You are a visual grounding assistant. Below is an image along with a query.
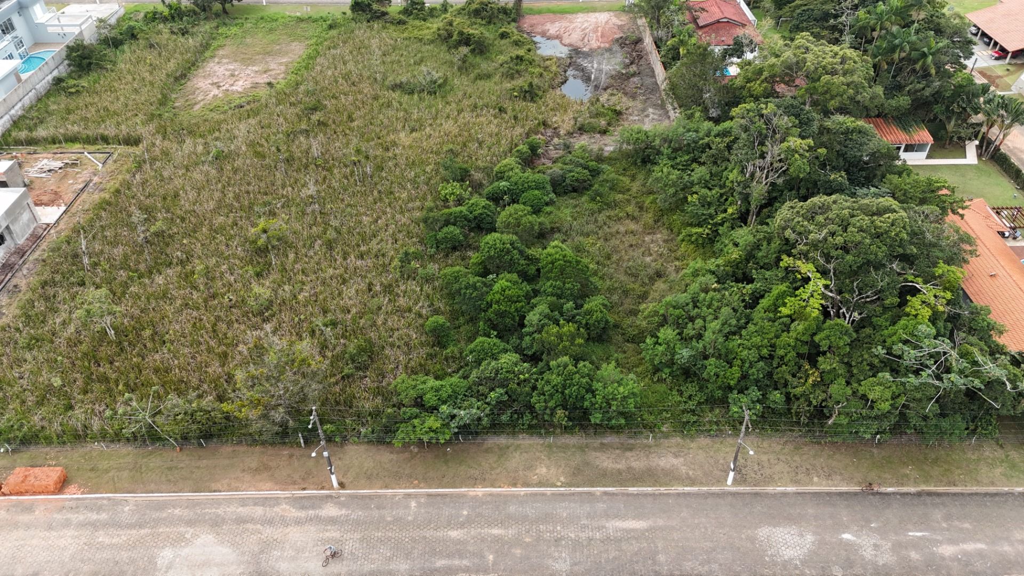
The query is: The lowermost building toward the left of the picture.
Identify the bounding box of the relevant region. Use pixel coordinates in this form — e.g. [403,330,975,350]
[0,187,38,268]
